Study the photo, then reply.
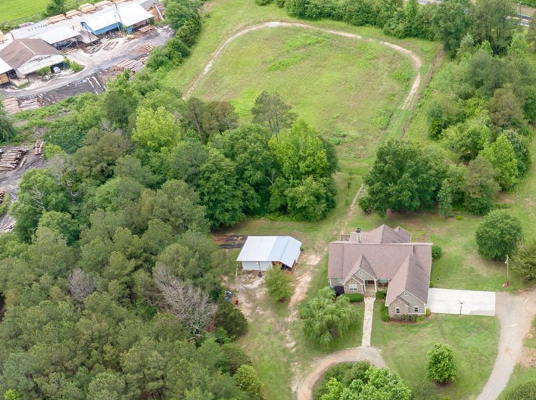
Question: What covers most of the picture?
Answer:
trees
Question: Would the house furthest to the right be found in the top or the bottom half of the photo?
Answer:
bottom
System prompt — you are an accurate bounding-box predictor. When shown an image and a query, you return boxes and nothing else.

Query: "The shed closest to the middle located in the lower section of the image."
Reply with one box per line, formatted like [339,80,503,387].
[235,236,303,272]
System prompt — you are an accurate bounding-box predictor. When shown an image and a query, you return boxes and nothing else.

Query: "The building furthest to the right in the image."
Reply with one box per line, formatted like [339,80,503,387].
[327,224,435,322]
